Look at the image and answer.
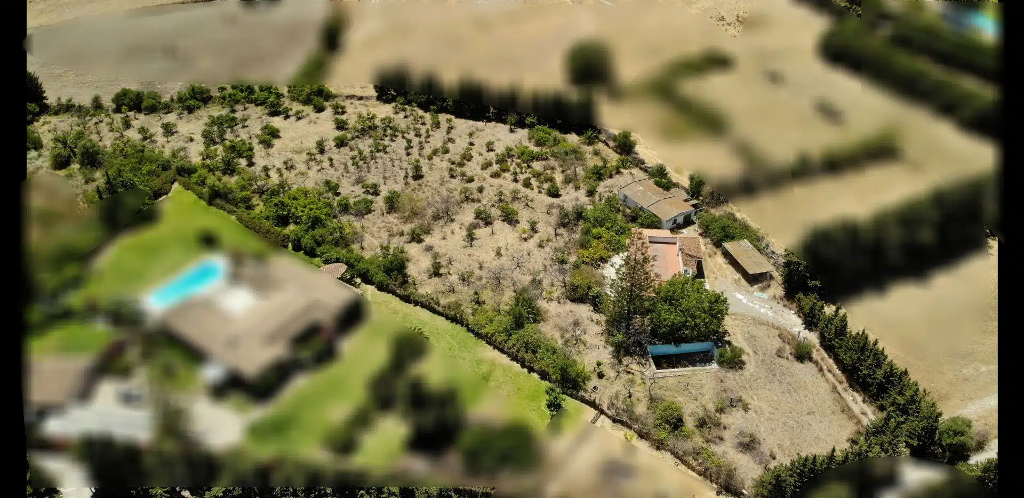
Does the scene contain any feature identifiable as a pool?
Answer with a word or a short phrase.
Yes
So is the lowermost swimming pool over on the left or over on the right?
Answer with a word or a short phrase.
right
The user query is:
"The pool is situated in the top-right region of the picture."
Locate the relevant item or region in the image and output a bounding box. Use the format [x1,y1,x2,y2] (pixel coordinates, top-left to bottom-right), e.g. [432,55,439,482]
[964,17,1002,30]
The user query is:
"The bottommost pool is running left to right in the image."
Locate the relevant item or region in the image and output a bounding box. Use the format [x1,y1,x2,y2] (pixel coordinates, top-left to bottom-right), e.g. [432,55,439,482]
[645,340,725,373]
